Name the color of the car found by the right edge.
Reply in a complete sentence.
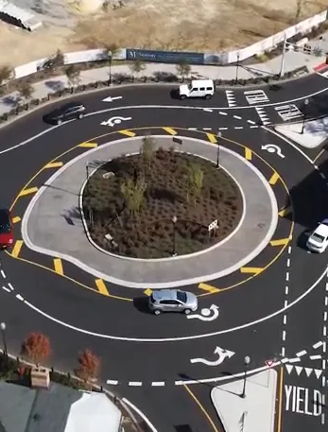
In this view, the car found by the right edge is white.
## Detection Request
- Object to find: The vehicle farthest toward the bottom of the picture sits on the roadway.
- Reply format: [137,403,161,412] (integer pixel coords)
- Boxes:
[147,287,198,314]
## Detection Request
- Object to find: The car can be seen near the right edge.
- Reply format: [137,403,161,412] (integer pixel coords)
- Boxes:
[306,218,328,251]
